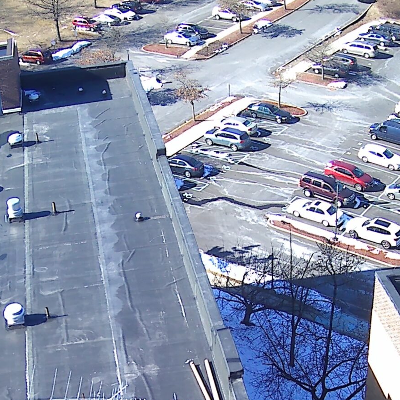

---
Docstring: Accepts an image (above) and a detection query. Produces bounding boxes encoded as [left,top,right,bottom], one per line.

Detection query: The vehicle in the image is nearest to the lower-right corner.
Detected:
[344,215,400,248]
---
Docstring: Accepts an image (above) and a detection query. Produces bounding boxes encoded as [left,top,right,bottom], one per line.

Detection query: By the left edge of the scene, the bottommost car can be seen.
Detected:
[18,45,52,64]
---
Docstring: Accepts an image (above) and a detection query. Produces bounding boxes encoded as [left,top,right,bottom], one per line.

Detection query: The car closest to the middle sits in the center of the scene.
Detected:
[169,153,208,177]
